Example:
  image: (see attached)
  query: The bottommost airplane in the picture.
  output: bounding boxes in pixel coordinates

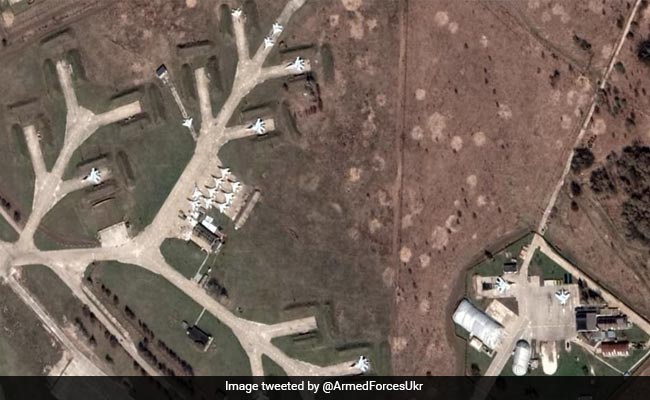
[351,357,371,370]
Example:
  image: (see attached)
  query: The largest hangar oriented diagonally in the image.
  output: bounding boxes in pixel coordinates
[451,299,507,347]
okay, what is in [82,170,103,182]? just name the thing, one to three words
airplane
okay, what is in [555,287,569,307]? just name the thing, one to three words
airplane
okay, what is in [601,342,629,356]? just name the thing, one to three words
building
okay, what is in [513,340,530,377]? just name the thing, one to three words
hangar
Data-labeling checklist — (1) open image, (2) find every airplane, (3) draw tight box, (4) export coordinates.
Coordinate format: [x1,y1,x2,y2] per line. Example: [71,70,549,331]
[222,192,237,202]
[232,6,242,22]
[212,177,227,187]
[182,116,192,130]
[285,58,306,71]
[202,197,216,208]
[218,168,233,179]
[189,200,203,211]
[265,34,274,50]
[351,357,371,370]
[215,203,230,213]
[82,170,103,182]
[228,180,243,191]
[205,187,220,197]
[273,21,283,36]
[555,287,569,307]
[246,119,267,133]
[194,186,204,201]
[493,279,513,292]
